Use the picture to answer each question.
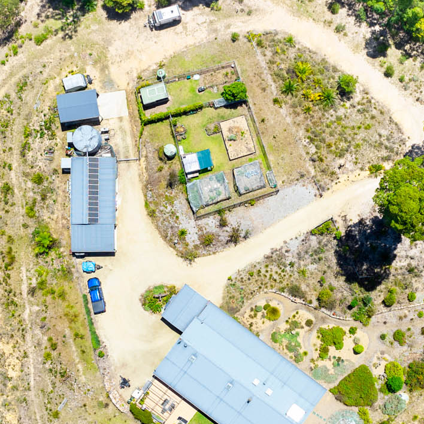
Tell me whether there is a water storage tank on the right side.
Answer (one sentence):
No, no water storage tank can be made out on the right side.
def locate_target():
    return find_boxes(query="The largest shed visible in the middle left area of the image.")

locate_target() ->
[71,157,120,253]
